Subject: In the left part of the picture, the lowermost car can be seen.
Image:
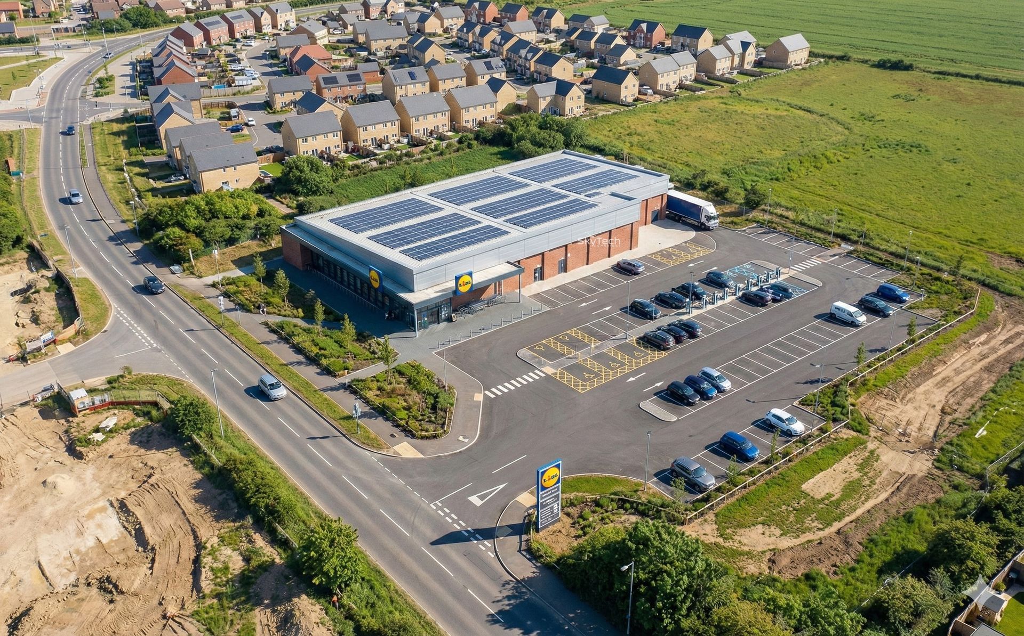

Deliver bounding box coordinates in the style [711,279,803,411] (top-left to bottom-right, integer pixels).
[258,371,285,397]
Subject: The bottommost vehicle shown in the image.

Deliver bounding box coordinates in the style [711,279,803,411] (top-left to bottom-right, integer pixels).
[670,454,715,487]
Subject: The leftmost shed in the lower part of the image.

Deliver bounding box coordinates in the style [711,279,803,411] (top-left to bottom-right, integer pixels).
[63,392,93,419]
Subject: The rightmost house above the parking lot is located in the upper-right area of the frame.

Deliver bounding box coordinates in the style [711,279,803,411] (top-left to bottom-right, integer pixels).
[759,29,812,69]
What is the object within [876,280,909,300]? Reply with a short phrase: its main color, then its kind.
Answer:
blue car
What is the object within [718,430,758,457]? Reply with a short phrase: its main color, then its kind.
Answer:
blue car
